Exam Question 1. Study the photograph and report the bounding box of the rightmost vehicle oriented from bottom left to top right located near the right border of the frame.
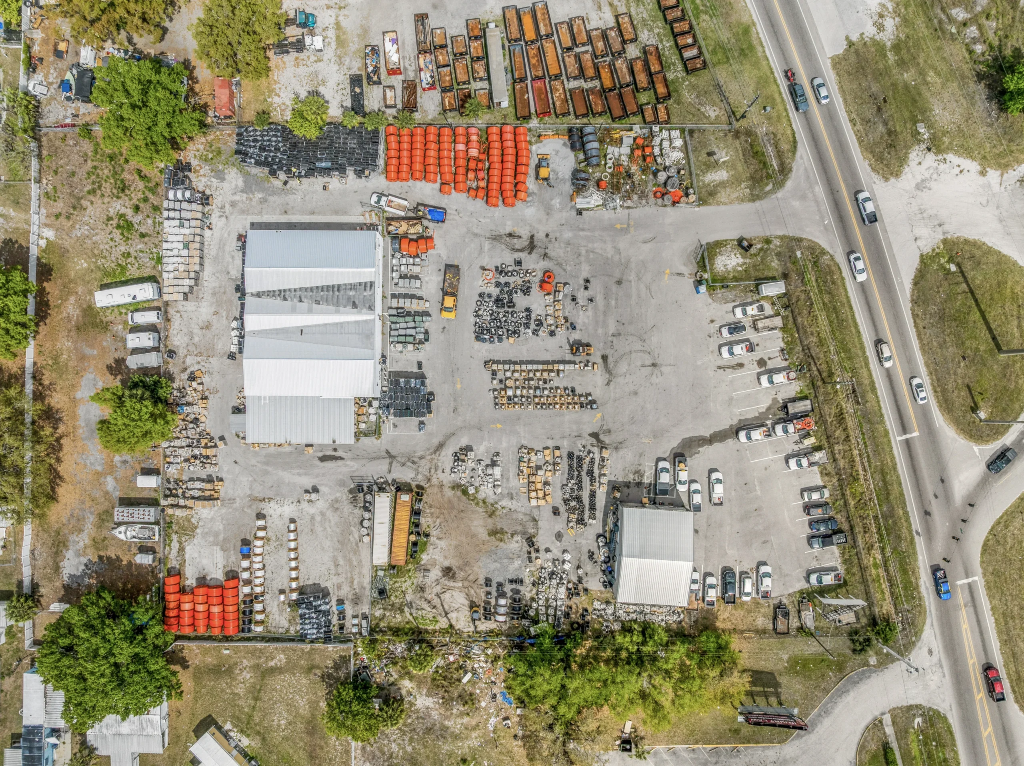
[983,445,1019,475]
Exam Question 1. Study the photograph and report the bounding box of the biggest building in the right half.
[612,502,693,608]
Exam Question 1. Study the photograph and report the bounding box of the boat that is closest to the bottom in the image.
[111,524,164,541]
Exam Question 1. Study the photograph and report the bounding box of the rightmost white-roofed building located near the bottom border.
[189,720,262,766]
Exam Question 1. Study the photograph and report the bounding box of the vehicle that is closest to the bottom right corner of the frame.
[982,666,1005,703]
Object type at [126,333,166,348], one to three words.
camper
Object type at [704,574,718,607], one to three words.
vehicle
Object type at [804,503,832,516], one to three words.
vehicle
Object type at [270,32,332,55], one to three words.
truck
